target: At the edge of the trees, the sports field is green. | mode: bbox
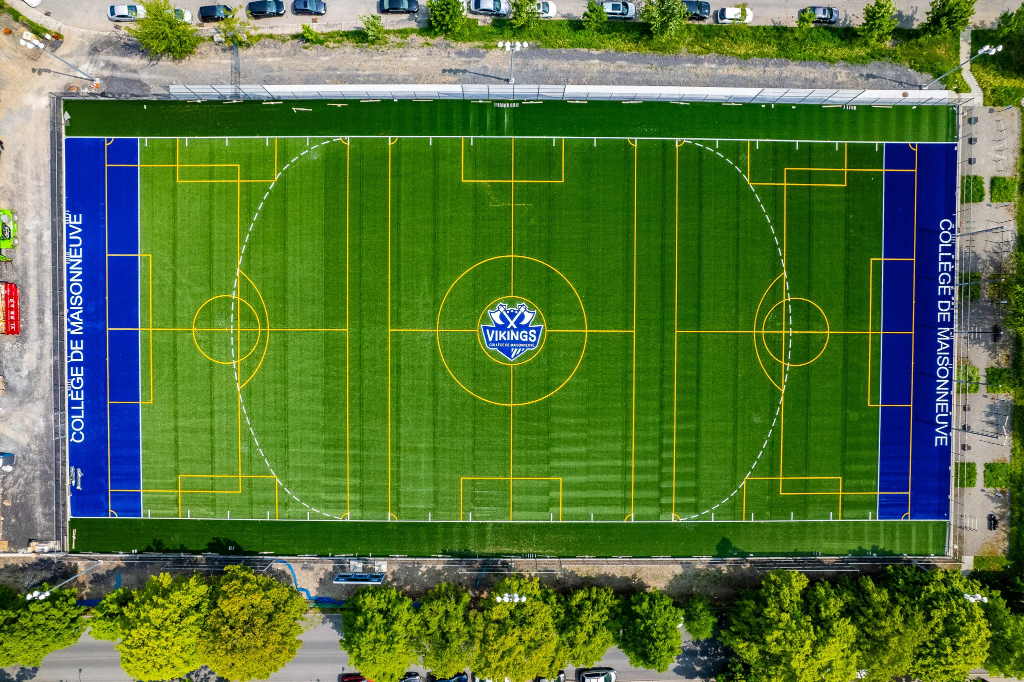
[66,99,958,558]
